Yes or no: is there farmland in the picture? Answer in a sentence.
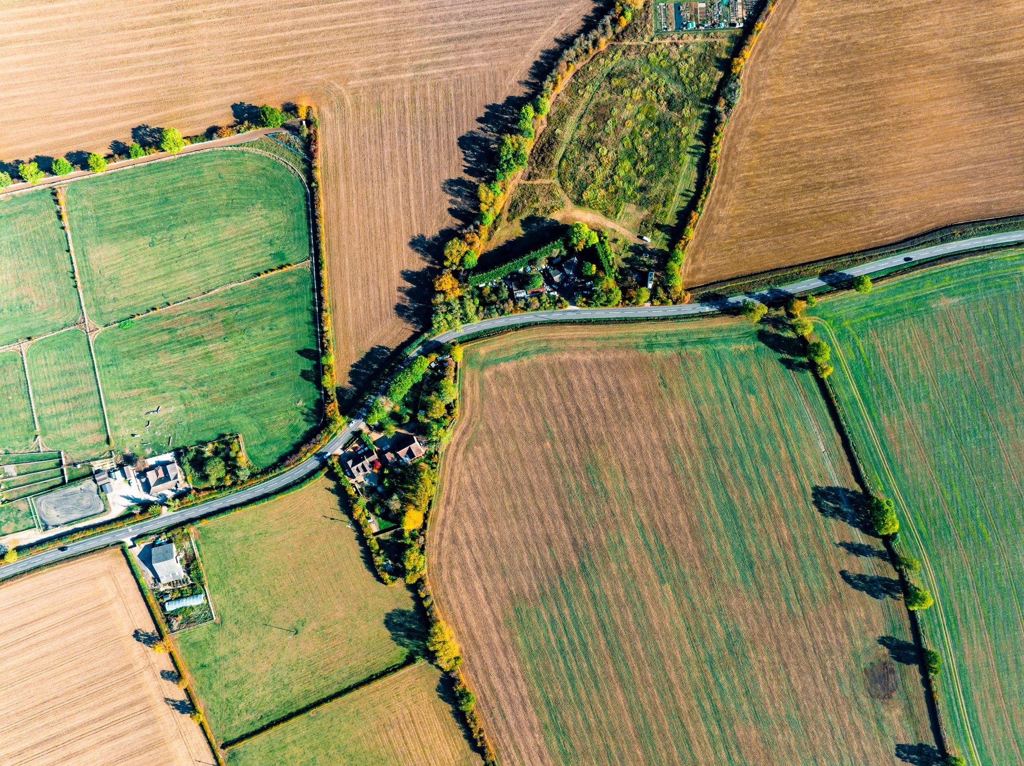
Yes, there is farmland in the image.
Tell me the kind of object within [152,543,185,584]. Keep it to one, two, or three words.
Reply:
barn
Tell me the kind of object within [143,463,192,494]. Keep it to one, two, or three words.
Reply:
house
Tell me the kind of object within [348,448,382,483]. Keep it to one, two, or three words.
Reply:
house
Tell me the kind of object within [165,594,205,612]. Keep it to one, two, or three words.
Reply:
greenhouse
